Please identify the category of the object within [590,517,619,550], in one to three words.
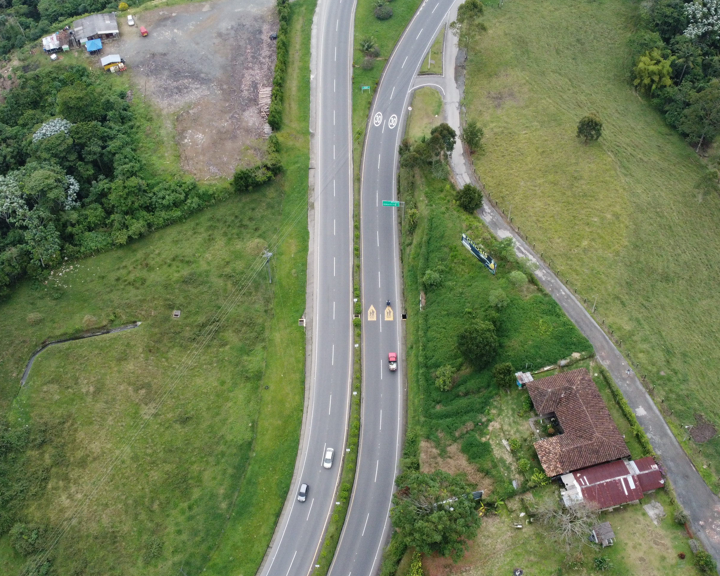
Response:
shed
